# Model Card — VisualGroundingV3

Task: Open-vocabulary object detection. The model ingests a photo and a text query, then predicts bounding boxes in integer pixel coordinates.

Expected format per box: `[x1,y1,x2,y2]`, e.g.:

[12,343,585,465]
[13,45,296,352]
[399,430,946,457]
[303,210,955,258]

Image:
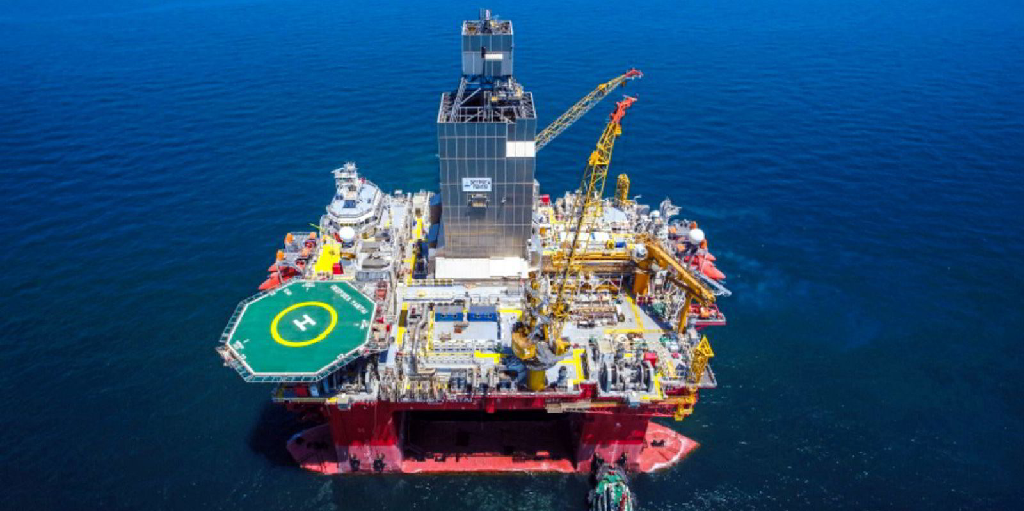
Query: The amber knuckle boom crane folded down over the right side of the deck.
[623,230,717,332]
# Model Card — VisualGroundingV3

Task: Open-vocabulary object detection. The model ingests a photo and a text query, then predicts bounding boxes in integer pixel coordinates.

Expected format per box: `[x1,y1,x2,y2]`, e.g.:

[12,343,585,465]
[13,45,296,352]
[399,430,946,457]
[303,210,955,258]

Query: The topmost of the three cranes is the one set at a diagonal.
[534,70,641,161]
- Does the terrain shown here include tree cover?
No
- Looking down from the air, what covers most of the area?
water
